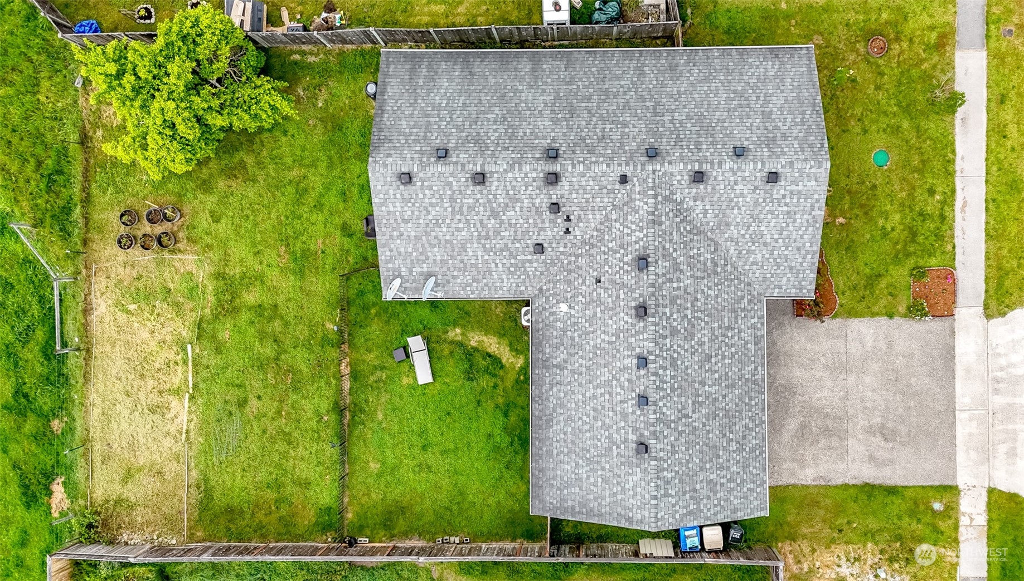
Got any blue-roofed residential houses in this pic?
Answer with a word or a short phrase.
No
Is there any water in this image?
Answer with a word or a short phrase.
No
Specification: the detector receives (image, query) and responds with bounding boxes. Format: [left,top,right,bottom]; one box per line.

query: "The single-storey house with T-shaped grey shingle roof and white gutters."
[367,46,829,529]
